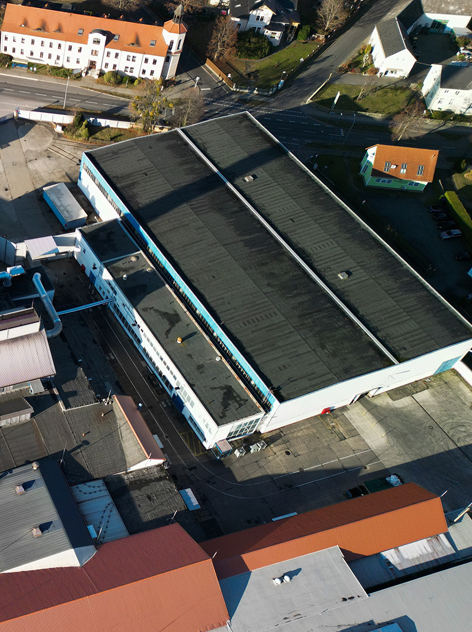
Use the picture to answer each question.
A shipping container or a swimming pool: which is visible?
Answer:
shipping container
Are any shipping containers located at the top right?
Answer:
No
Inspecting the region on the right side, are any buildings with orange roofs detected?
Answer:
Yes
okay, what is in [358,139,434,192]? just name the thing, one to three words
house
